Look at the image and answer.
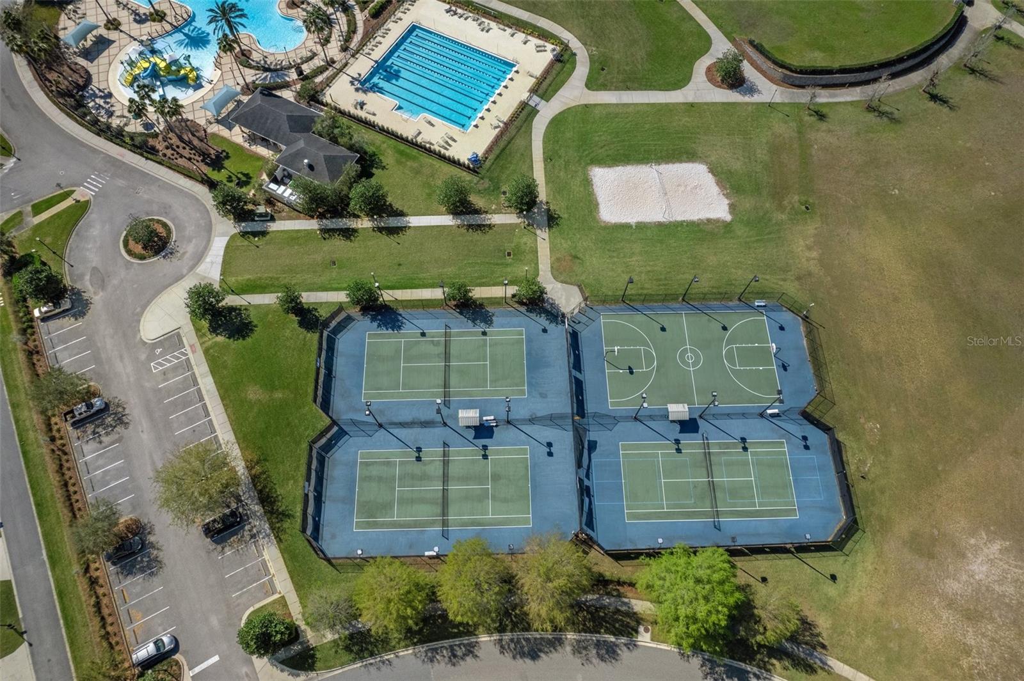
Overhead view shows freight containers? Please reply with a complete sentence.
No, there is no freight container in the image.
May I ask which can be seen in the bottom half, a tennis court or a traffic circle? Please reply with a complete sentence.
The one visible in the bottom half is a tennis court.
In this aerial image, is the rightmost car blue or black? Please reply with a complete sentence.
The rightmost car is black.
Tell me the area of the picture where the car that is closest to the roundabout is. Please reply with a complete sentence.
The car that is closest to the roundabout is located in the left region of the scene.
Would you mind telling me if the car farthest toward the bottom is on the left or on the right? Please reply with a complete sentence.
You can find the car farthest toward the bottom on the left side of the picture.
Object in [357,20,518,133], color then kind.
blue swimming pool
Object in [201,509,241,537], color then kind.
black car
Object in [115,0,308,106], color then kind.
blue swimming pool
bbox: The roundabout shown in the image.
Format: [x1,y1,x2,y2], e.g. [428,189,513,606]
[120,215,177,263]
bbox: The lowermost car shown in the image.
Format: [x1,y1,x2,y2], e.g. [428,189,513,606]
[131,635,176,668]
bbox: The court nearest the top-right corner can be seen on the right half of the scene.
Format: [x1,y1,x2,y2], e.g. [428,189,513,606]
[589,162,733,225]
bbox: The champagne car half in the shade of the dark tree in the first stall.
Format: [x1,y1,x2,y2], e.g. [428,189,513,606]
[35,299,70,319]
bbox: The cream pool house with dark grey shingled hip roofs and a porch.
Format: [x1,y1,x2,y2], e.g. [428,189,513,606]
[229,87,359,189]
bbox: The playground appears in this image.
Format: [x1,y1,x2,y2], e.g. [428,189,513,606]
[115,25,216,104]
